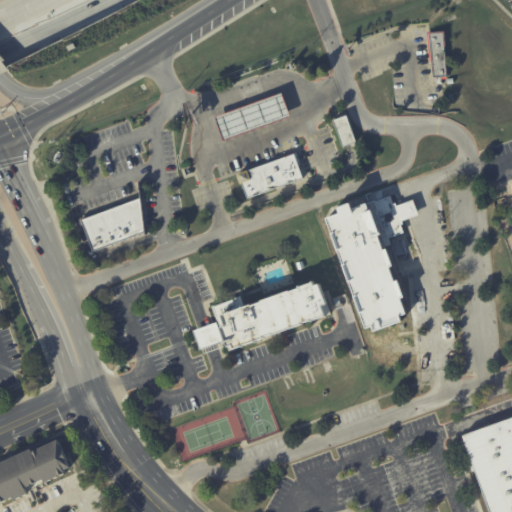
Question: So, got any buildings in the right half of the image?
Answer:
Yes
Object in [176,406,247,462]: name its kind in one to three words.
tennis court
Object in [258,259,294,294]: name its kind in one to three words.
swimming pool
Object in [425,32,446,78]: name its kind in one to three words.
building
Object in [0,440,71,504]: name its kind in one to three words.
building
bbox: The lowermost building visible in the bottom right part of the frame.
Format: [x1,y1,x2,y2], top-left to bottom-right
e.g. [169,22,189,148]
[460,418,512,512]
